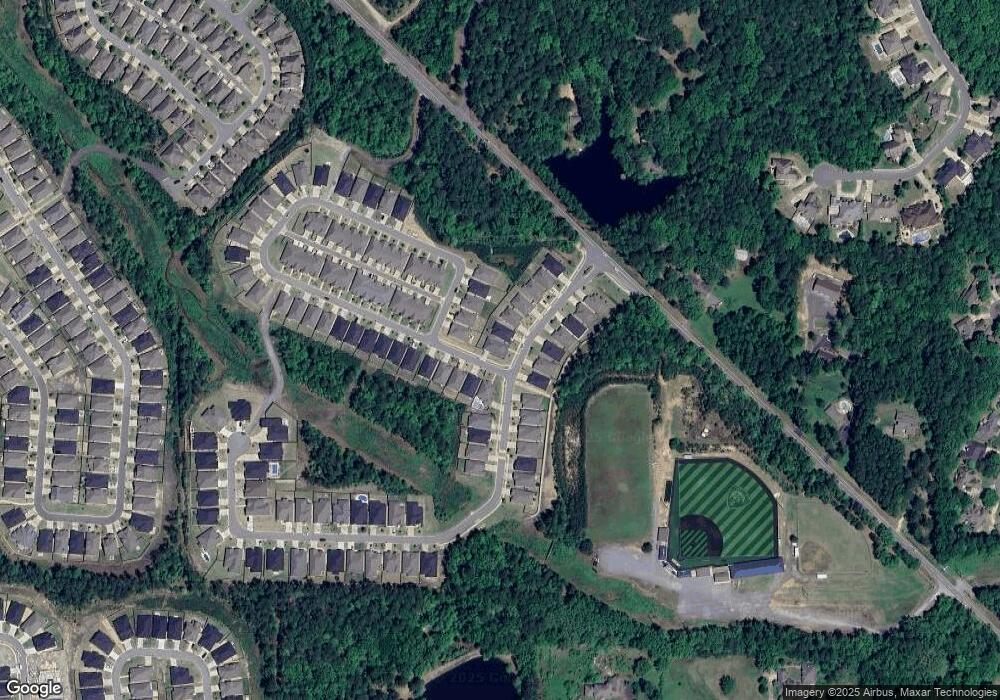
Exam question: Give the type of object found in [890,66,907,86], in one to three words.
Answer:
swimming pool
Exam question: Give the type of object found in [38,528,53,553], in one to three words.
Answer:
house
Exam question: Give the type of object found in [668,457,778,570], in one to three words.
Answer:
baseball field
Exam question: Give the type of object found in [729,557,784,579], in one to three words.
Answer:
shed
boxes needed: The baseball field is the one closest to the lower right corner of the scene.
[798,503,872,573]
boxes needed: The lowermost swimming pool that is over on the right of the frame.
[839,398,854,413]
